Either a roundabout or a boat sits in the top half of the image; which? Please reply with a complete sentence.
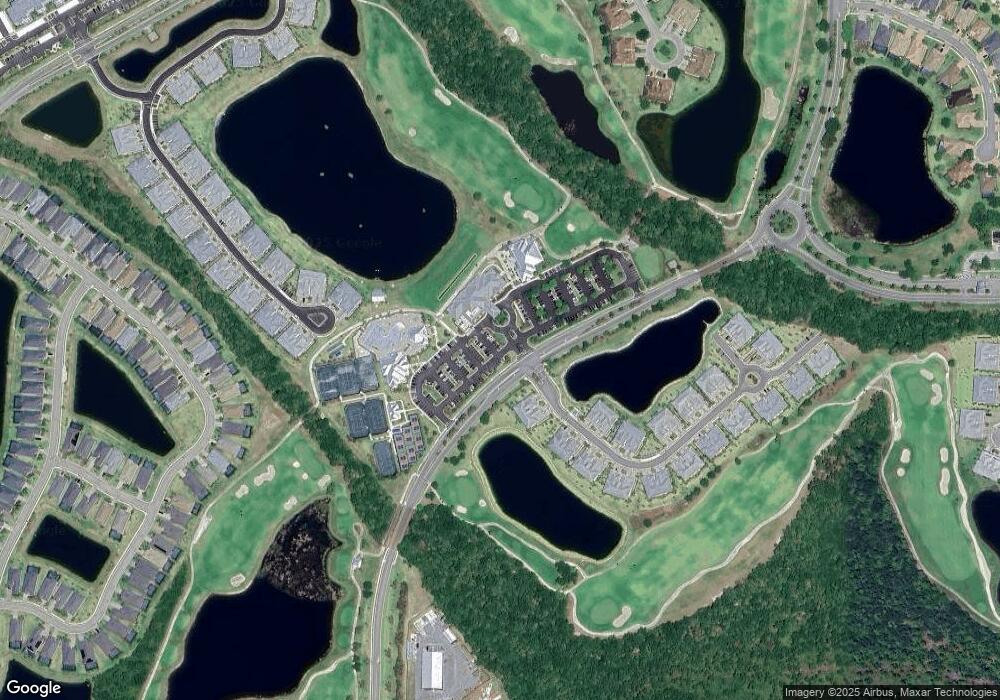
You can see a roundabout in the top half of the image.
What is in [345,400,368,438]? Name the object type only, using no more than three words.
tennis court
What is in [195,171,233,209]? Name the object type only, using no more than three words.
house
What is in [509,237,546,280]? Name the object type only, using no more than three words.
building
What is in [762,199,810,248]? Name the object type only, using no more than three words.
roundabout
